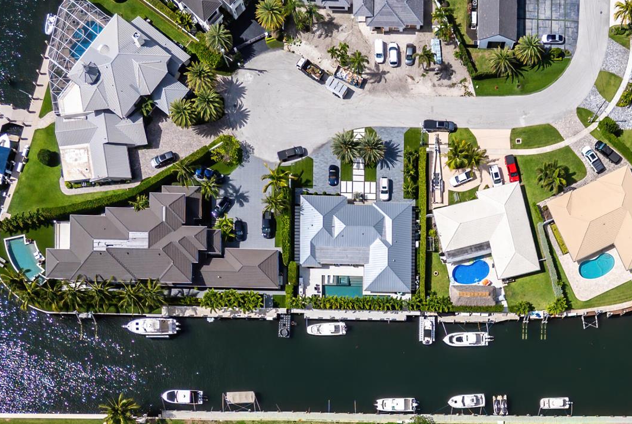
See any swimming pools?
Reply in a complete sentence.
Yes, this view includes a swimming pool.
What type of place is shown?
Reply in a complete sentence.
The picture captures a residential area.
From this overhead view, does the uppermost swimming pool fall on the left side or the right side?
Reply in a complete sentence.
The uppermost swimming pool sits on the left side.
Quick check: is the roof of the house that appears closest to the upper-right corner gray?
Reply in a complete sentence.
Yes, gray is the color of the roof of the house that appears closest to the upper-right corner.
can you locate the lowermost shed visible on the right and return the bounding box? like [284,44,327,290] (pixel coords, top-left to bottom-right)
[450,286,497,306]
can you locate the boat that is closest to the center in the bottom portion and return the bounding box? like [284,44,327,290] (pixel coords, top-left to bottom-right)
[306,322,348,335]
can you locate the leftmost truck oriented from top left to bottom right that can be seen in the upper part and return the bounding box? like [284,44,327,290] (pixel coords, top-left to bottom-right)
[295,53,324,80]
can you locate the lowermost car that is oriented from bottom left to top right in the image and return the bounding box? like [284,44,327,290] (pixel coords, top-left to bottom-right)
[211,196,232,215]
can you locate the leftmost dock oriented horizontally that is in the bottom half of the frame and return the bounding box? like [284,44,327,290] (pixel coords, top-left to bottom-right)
[162,306,290,319]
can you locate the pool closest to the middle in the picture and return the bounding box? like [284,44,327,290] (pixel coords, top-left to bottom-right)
[321,274,365,299]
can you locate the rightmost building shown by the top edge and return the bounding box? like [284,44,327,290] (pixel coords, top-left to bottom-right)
[476,0,518,46]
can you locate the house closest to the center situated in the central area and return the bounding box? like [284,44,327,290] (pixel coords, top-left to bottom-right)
[301,195,411,293]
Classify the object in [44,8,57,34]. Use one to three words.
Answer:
boat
